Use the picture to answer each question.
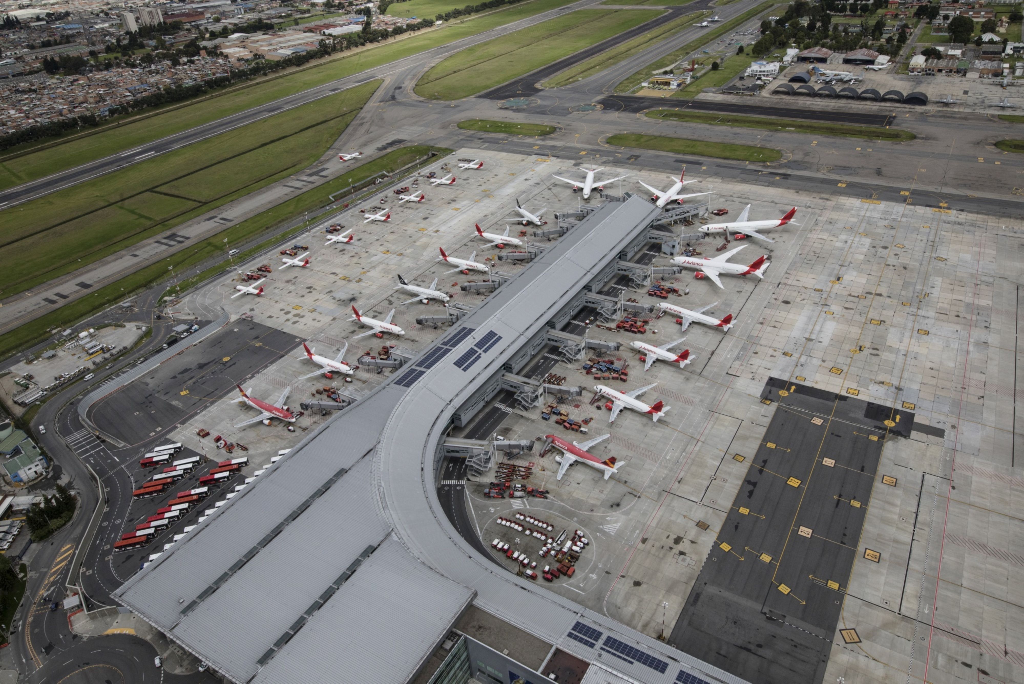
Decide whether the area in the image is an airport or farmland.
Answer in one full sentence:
What you see here is an airport.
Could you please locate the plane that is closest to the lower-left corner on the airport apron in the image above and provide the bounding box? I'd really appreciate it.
[227,386,296,428]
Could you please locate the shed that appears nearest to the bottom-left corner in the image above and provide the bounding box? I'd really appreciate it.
[60,588,83,610]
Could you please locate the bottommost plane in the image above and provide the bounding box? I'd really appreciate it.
[548,433,625,479]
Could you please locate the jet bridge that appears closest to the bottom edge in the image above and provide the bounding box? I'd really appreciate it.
[491,440,534,460]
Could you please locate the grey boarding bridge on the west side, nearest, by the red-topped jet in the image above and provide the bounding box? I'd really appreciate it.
[298,399,353,417]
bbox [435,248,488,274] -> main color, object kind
white airplane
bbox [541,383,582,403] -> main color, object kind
gray jet bridge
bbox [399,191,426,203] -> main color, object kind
white airplane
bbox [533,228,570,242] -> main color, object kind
gray jet bridge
